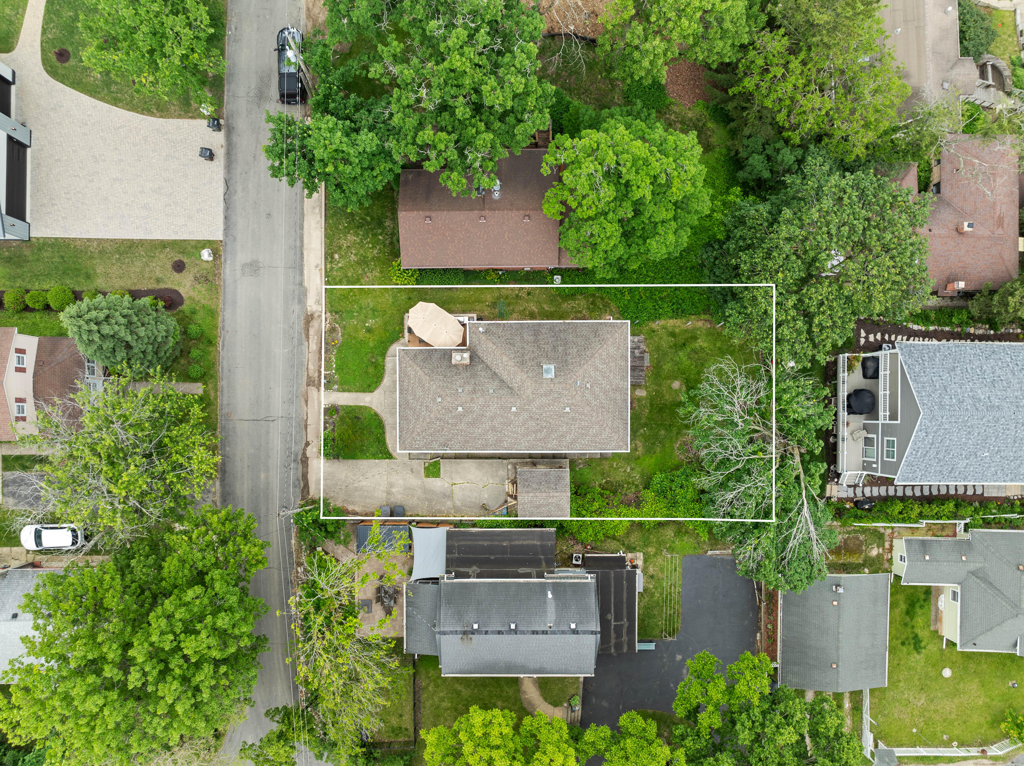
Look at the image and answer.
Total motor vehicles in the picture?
2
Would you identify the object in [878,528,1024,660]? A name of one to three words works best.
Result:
building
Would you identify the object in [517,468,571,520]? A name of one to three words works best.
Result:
shed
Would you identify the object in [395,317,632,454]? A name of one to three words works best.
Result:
house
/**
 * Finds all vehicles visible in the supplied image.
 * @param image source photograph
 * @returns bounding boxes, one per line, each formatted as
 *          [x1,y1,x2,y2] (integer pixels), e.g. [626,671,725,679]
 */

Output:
[24,521,86,553]
[272,29,308,108]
